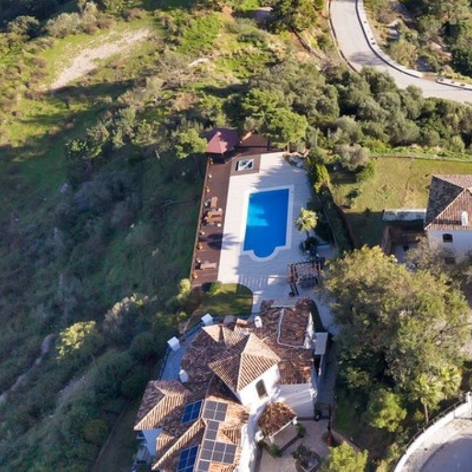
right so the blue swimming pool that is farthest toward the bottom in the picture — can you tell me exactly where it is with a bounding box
[240,185,294,262]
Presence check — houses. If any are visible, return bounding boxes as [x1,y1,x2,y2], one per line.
[411,174,472,273]
[131,298,327,472]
